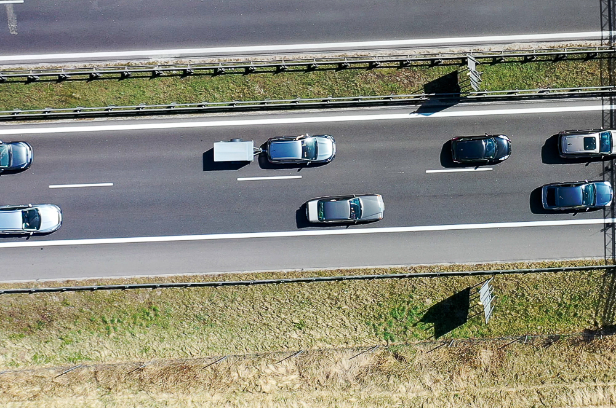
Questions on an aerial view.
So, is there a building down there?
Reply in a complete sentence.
No, this view has no building in it.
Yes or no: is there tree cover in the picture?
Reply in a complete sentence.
No, there's no tree cover in this view.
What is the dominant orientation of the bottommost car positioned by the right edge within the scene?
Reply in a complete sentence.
The bottommost car positioned by the right edge has been laid out from side to side relative to the frame.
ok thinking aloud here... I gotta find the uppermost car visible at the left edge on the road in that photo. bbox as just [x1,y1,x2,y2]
[0,137,36,173]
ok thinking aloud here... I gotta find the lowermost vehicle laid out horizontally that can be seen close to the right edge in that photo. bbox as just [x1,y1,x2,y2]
[541,177,614,212]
